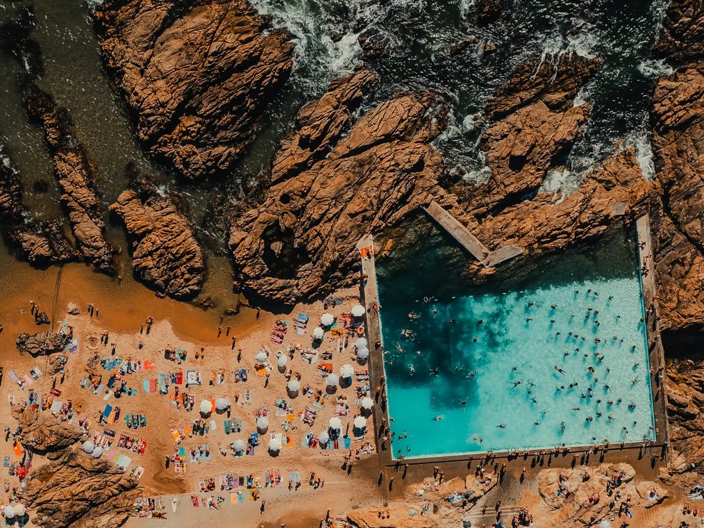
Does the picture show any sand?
Yes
